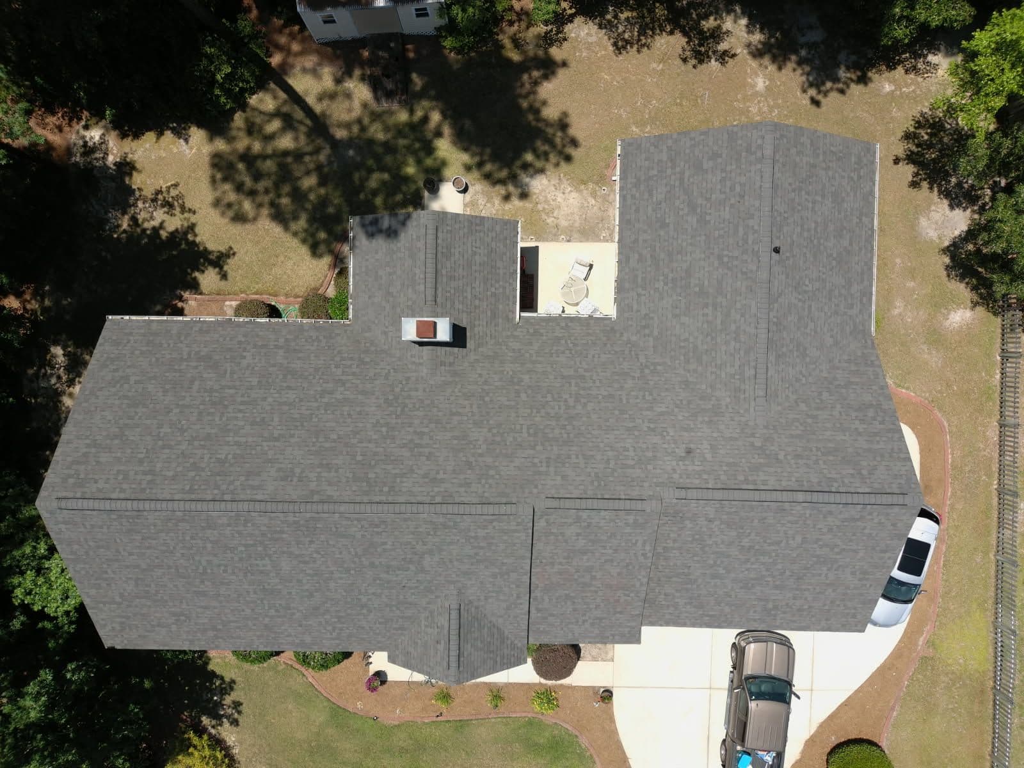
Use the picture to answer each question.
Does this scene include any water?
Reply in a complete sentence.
No, there is no water in the image.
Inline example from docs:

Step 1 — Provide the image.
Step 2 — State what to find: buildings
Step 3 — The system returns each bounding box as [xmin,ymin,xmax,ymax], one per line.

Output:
[36,121,922,684]
[291,0,448,44]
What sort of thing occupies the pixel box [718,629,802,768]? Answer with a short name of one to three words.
truck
